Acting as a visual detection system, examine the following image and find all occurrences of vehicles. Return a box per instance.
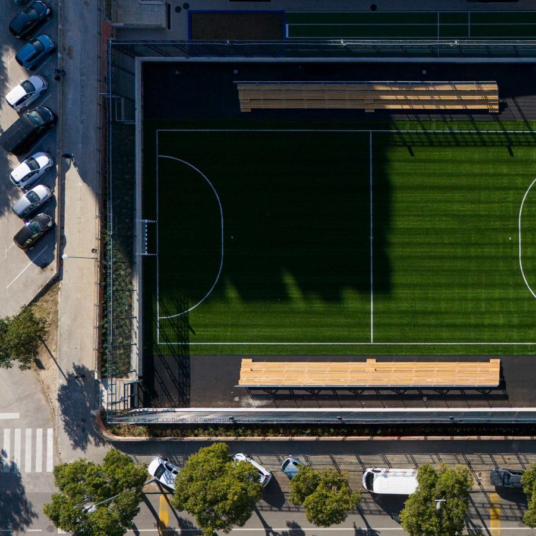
[496,466,534,490]
[0,104,59,156]
[8,183,57,222]
[146,453,177,494]
[279,450,317,486]
[231,449,277,491]
[365,468,425,497]
[2,73,51,113]
[6,152,56,190]
[11,31,59,71]
[9,212,59,252]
